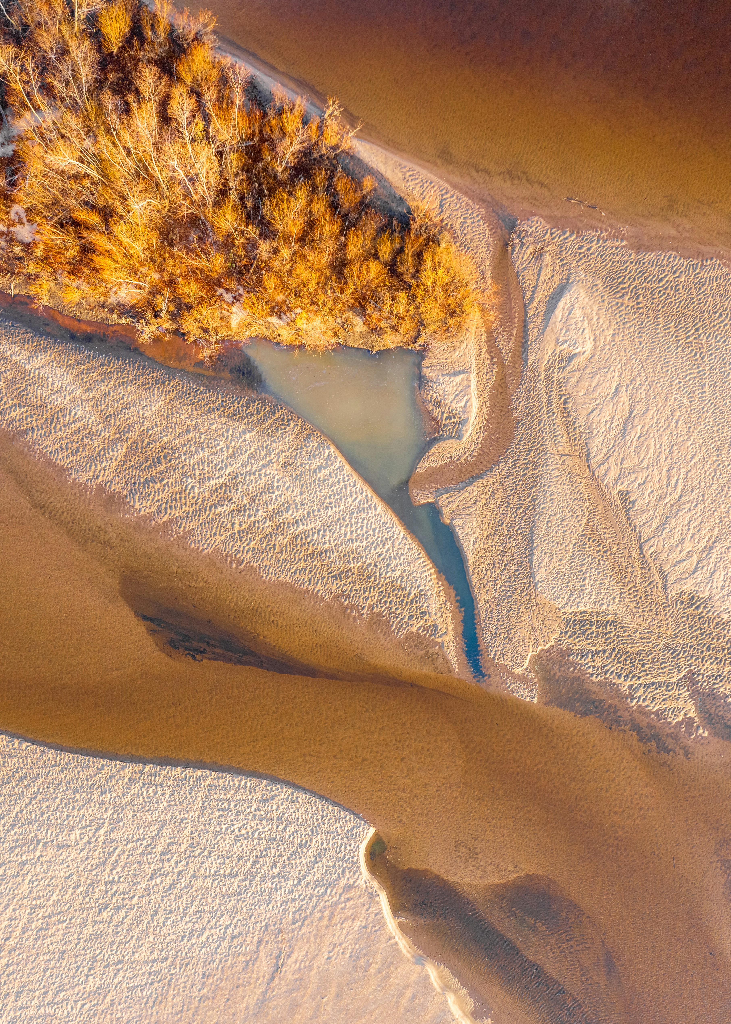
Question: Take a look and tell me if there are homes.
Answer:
No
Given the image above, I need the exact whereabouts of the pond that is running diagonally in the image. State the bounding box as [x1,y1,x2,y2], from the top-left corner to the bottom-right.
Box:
[254,342,486,678]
